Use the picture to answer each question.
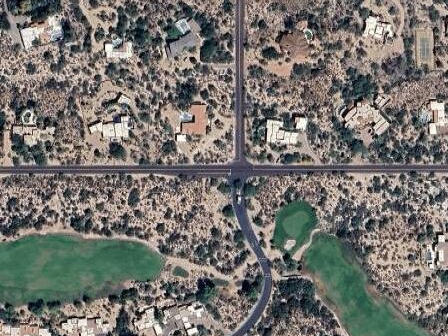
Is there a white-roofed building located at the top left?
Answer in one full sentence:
Yes, a white-roofed building appears at the top left.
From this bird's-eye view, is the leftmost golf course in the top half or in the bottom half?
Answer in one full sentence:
You can find the leftmost golf course in the bottom half.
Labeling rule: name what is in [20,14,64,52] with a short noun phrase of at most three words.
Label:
house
